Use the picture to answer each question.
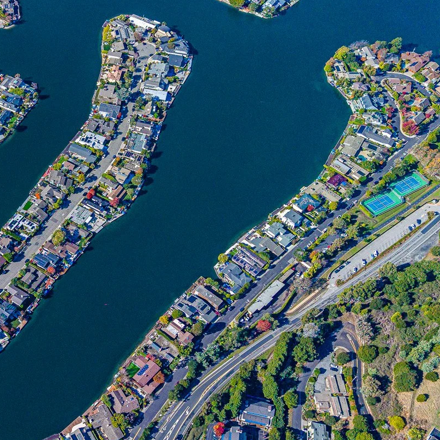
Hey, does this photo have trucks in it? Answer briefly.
No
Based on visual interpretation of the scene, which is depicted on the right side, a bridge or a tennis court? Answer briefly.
tennis court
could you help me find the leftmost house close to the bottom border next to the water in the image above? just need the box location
[67,424,92,440]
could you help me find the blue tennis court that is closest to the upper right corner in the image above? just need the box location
[387,170,428,196]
